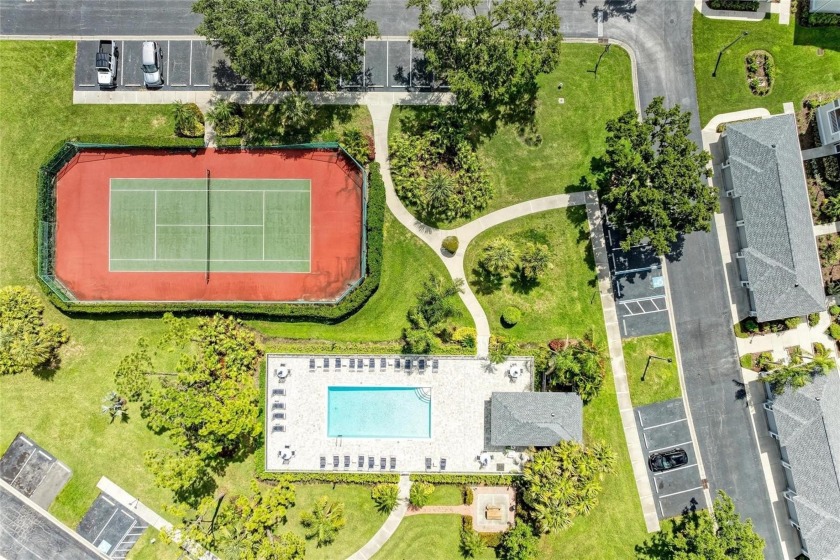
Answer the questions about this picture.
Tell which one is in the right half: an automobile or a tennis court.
automobile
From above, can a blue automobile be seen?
No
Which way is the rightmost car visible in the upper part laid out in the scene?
from top to bottom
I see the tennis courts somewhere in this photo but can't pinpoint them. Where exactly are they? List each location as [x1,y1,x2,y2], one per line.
[56,149,363,301]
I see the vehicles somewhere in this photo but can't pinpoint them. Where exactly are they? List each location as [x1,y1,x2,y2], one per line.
[647,448,689,471]
[142,45,164,89]
[95,39,119,88]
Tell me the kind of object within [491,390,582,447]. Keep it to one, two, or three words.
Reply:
building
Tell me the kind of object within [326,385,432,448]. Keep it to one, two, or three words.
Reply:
swimming pool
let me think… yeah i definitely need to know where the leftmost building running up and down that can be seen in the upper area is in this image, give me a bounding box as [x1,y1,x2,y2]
[719,115,828,323]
